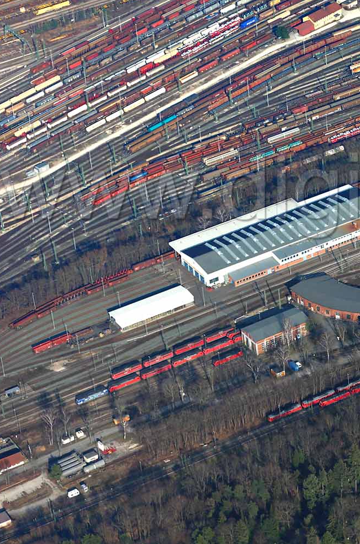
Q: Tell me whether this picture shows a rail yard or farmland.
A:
rail yard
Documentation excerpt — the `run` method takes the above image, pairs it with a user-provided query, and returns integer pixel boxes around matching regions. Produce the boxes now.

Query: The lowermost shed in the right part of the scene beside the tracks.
[240,311,308,355]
